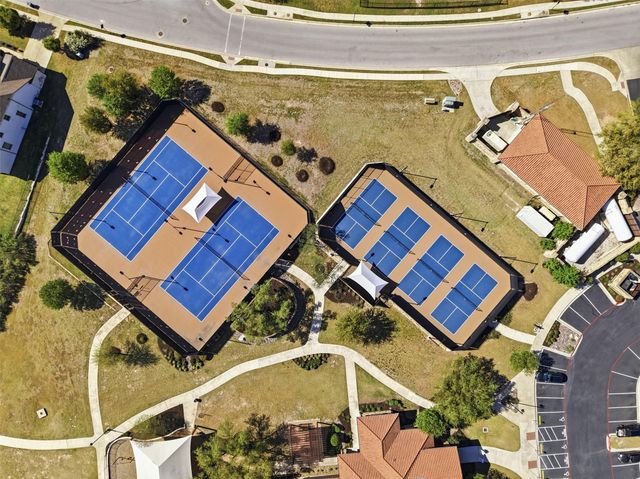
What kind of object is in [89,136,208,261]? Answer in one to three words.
tennis court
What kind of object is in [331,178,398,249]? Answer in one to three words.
sports court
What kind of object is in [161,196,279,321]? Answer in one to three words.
tennis court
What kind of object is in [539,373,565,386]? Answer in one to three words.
vehicle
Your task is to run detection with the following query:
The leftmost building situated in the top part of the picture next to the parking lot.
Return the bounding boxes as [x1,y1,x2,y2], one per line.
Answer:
[496,113,617,230]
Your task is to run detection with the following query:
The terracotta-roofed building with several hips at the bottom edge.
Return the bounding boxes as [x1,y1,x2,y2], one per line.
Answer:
[336,409,465,479]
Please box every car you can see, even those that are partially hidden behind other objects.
[539,373,565,386]
[620,424,640,438]
[621,451,640,466]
